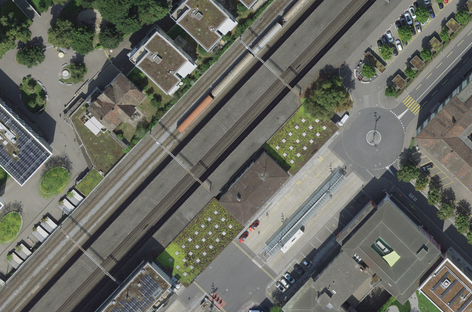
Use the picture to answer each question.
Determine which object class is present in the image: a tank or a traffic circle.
traffic circle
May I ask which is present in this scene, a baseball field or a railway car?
railway car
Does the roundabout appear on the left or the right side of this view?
right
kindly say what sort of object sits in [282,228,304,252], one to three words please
bus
